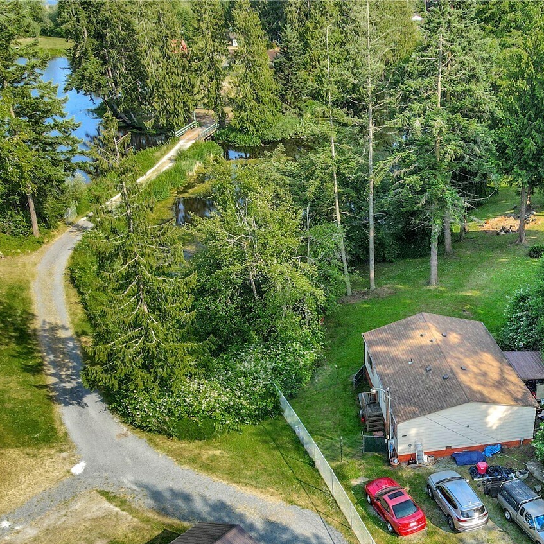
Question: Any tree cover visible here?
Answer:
Yes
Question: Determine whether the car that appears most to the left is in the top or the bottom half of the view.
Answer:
bottom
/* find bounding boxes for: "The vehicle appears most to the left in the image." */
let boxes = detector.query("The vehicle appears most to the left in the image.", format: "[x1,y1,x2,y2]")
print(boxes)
[363,478,427,539]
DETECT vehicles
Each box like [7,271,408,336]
[363,478,427,539]
[425,472,488,536]
[495,477,544,544]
